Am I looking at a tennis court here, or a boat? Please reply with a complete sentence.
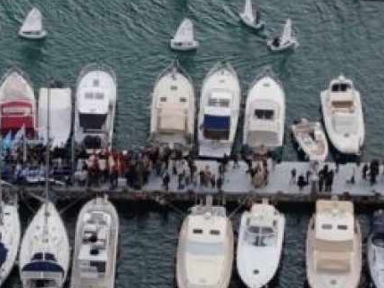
It is a boat that can be seen here.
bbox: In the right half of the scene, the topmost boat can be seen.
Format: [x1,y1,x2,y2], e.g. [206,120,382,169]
[240,0,267,30]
